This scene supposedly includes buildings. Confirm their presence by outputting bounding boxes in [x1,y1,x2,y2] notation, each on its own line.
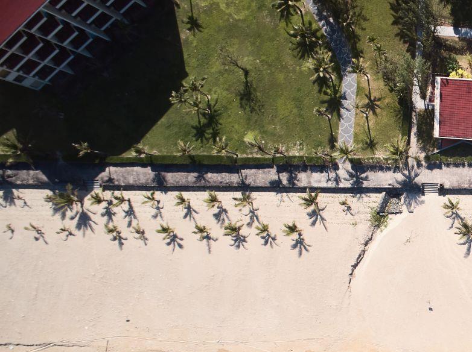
[426,73,472,155]
[0,0,146,92]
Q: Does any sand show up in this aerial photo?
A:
Yes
